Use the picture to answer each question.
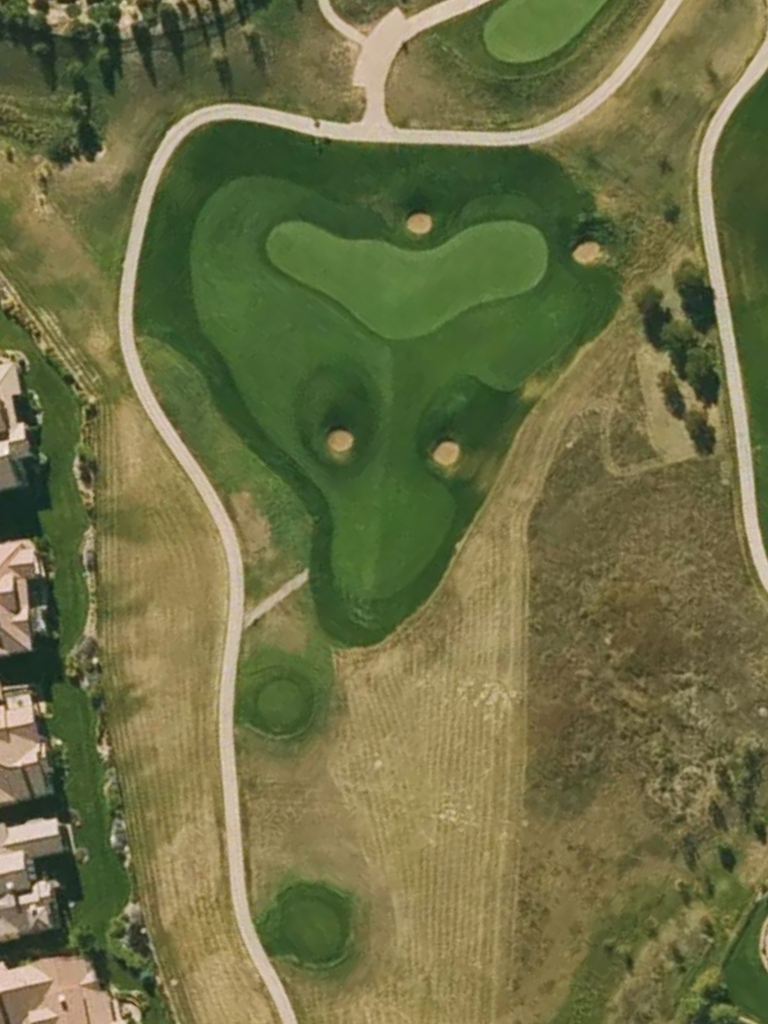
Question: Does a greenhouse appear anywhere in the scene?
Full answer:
No, the scene contains no greenhouse.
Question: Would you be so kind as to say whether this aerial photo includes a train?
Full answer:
No, there's no train here.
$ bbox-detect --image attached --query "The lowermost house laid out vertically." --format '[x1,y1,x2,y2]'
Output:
[0,816,60,950]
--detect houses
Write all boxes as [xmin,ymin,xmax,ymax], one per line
[0,354,27,490]
[0,955,119,1024]
[0,692,45,807]
[0,538,33,653]
[0,816,60,950]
